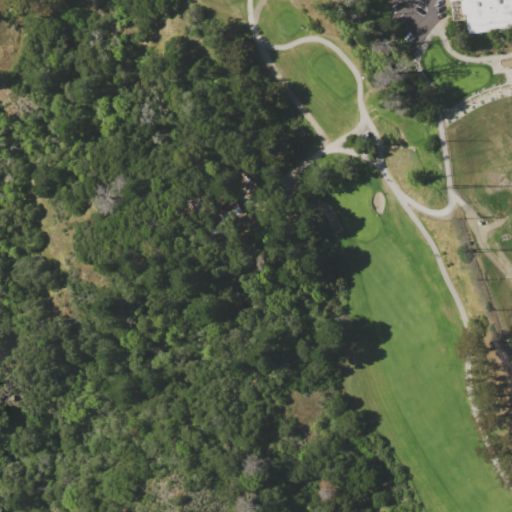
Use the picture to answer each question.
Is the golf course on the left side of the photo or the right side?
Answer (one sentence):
The golf course sits on the right side.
